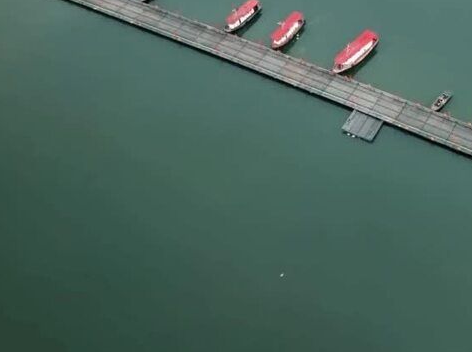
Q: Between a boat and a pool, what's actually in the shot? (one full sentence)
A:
Looking from above, you can make out a boat.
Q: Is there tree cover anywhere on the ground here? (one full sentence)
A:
No, there is no tree cover in the image.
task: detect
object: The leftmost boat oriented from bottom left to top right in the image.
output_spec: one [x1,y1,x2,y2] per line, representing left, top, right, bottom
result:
[226,0,265,36]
